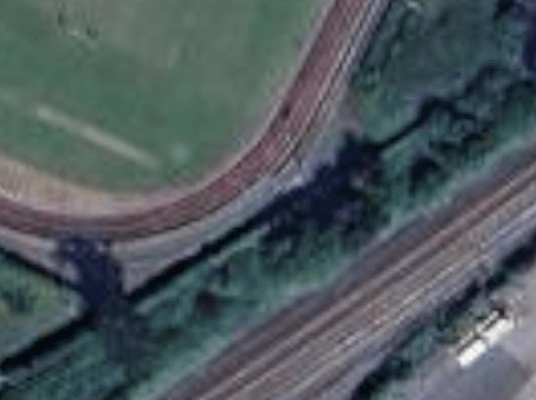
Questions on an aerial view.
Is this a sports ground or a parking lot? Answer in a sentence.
The area seen from above is a sports ground.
